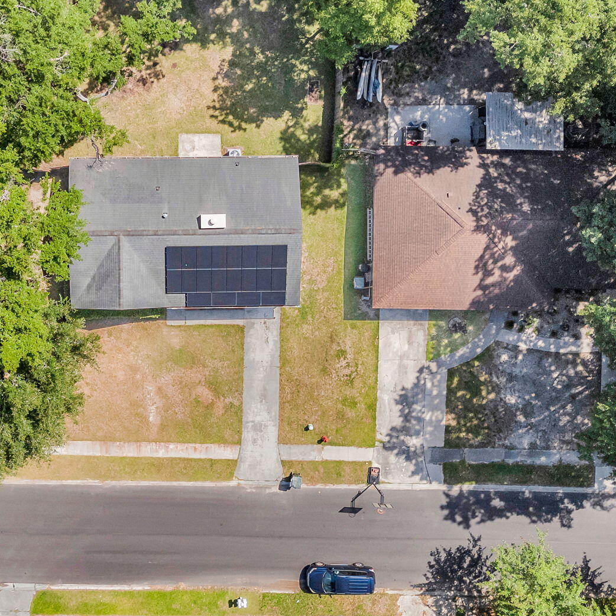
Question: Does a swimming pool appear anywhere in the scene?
No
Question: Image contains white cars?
No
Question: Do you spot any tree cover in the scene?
Yes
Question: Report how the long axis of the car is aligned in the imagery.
from side to side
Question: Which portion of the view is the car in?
bottom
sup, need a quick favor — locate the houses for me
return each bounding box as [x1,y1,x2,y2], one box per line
[66,156,303,311]
[370,145,616,310]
